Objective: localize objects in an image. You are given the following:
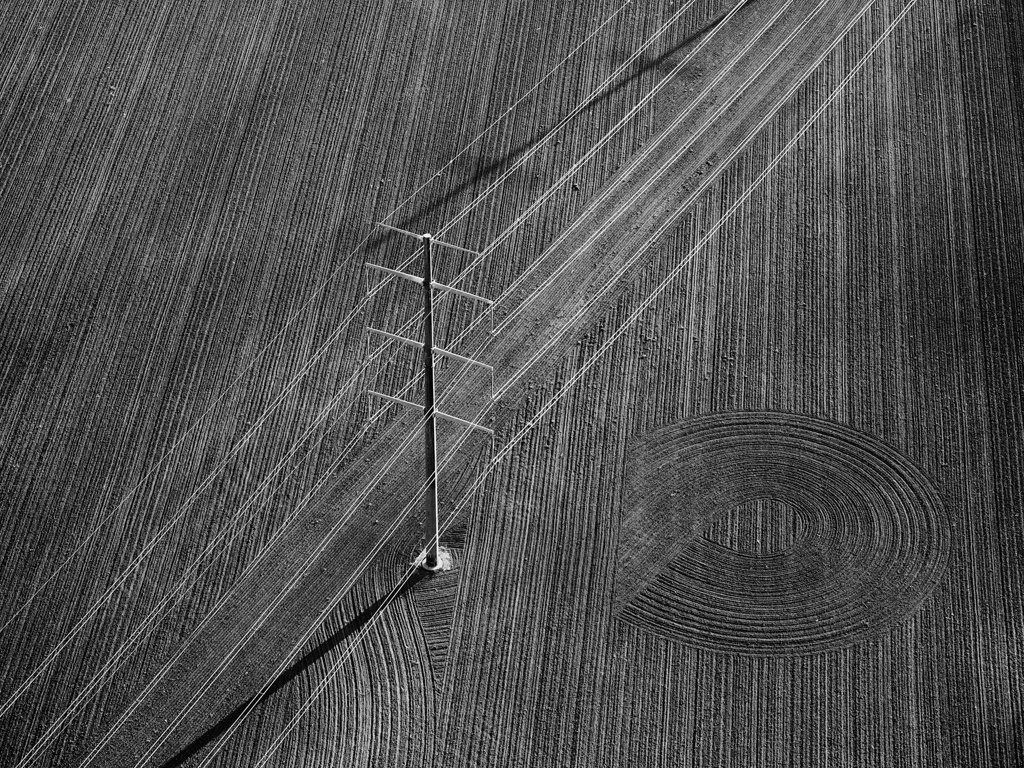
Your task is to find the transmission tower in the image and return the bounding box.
[365,224,497,570]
